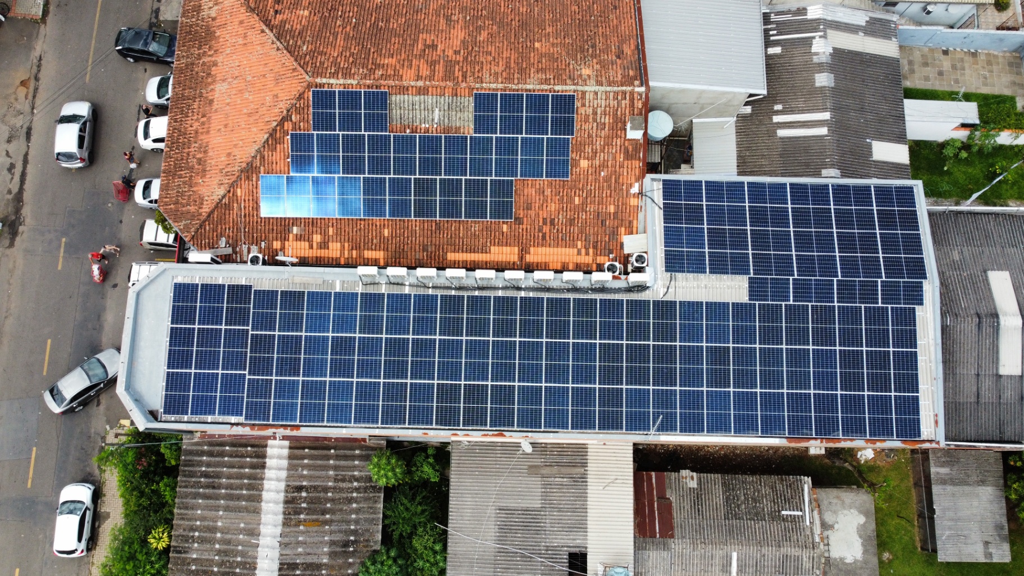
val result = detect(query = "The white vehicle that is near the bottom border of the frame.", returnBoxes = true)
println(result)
[54,479,103,563]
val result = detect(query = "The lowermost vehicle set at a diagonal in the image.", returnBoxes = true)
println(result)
[46,351,121,413]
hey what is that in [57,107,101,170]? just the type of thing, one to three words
car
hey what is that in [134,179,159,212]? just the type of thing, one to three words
car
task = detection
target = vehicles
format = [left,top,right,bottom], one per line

[120,260,167,290]
[147,78,170,110]
[46,351,121,413]
[134,179,159,212]
[57,107,101,170]
[116,33,174,68]
[138,121,165,154]
[135,219,178,254]
[54,479,103,563]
